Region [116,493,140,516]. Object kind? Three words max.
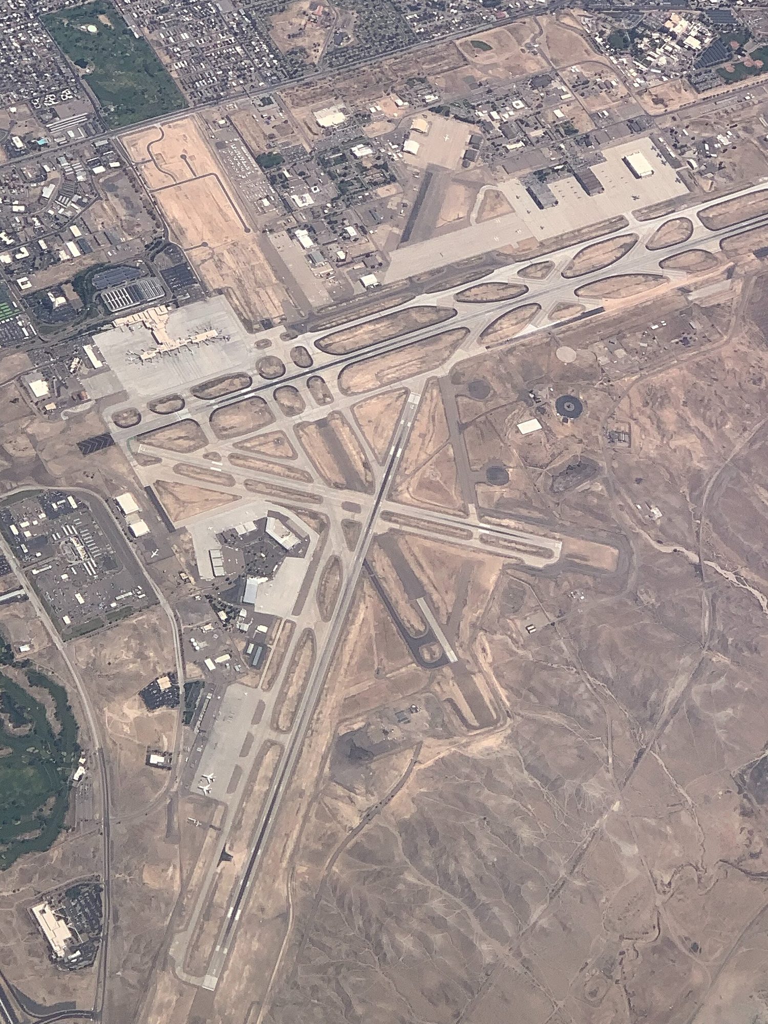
hangar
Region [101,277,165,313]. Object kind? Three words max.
building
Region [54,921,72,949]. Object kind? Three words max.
building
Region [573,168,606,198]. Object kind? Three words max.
hangar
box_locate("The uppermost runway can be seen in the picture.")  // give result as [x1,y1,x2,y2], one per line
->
[112,218,768,441]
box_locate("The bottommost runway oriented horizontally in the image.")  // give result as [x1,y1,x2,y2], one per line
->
[139,448,562,550]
